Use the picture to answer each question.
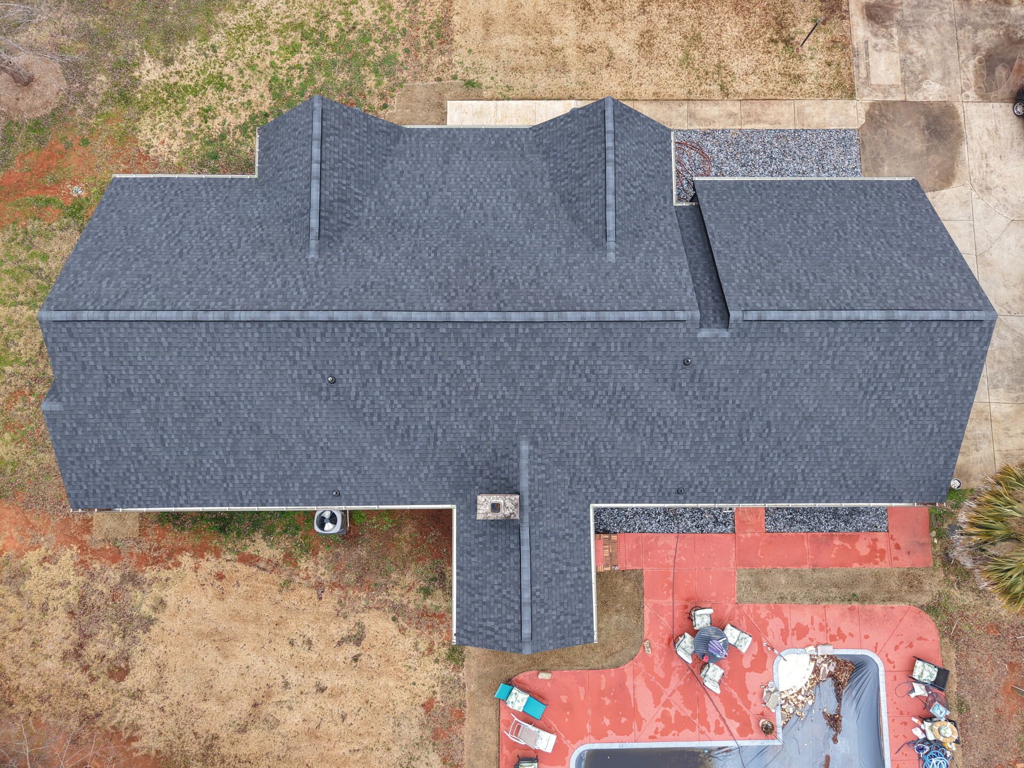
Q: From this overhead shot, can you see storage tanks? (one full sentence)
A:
No, there is no storage tank in the image.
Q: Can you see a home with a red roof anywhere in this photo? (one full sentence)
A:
No, there's no home with a red roof here.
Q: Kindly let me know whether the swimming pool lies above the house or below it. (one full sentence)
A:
Relative to the house, the swimming pool lies below it.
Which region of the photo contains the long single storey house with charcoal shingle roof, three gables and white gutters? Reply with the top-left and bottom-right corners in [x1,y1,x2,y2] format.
[37,95,997,654]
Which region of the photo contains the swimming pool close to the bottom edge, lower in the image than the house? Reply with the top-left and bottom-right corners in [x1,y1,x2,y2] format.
[571,649,890,768]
